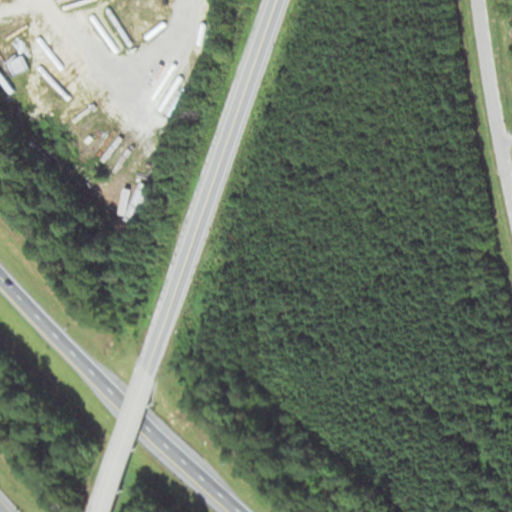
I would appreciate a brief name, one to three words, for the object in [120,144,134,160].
vehicle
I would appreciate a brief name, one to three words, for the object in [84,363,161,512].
bridge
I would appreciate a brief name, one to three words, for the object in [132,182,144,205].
vehicle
